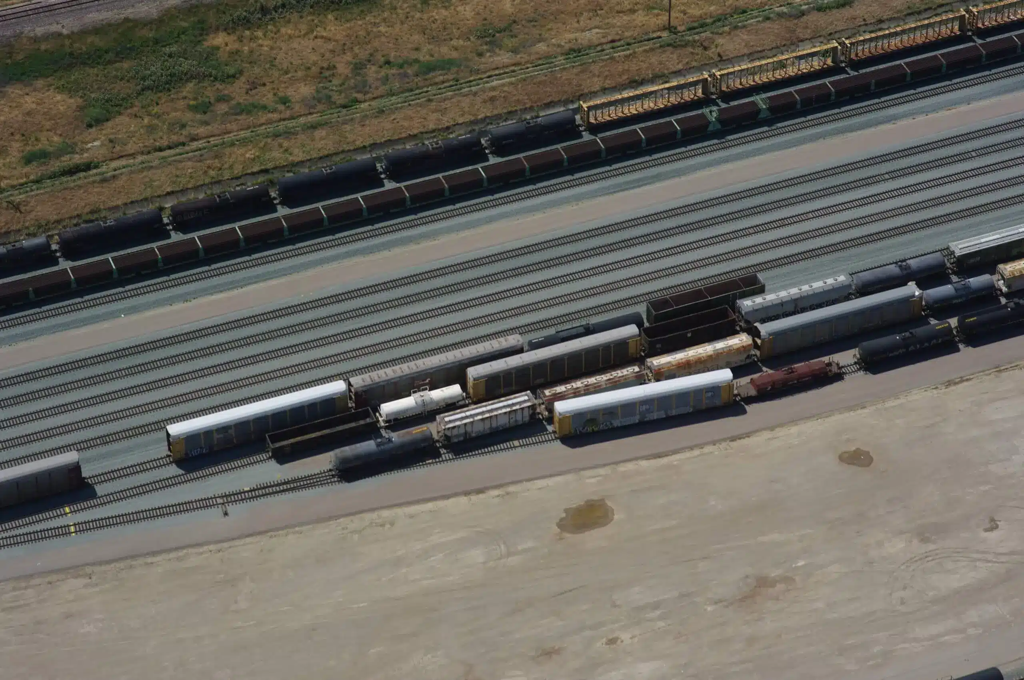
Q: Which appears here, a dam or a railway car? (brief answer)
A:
railway car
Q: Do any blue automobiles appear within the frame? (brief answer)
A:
No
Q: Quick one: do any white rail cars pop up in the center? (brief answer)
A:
Yes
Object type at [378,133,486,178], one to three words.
rail car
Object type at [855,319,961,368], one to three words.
rail car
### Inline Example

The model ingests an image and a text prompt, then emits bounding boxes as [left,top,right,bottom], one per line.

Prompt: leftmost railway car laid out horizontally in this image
[0,238,58,268]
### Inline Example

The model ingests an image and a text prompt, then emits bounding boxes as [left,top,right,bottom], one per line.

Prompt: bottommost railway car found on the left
[330,426,440,476]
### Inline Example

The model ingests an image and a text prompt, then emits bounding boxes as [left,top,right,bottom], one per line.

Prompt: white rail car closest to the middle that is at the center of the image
[375,384,468,428]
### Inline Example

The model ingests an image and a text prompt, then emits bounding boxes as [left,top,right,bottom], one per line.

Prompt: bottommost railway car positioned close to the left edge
[12,257,137,306]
